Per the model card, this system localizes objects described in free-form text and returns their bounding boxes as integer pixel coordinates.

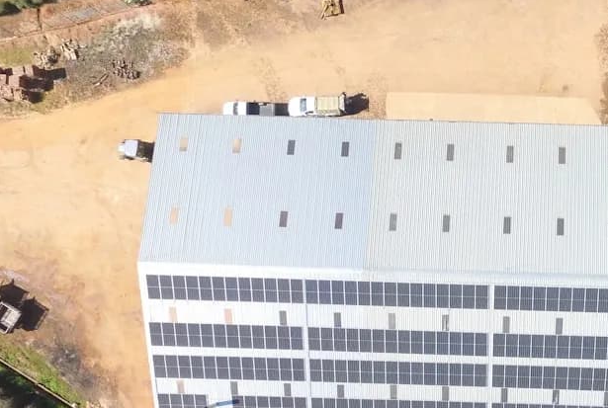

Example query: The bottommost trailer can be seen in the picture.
[0,301,37,334]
